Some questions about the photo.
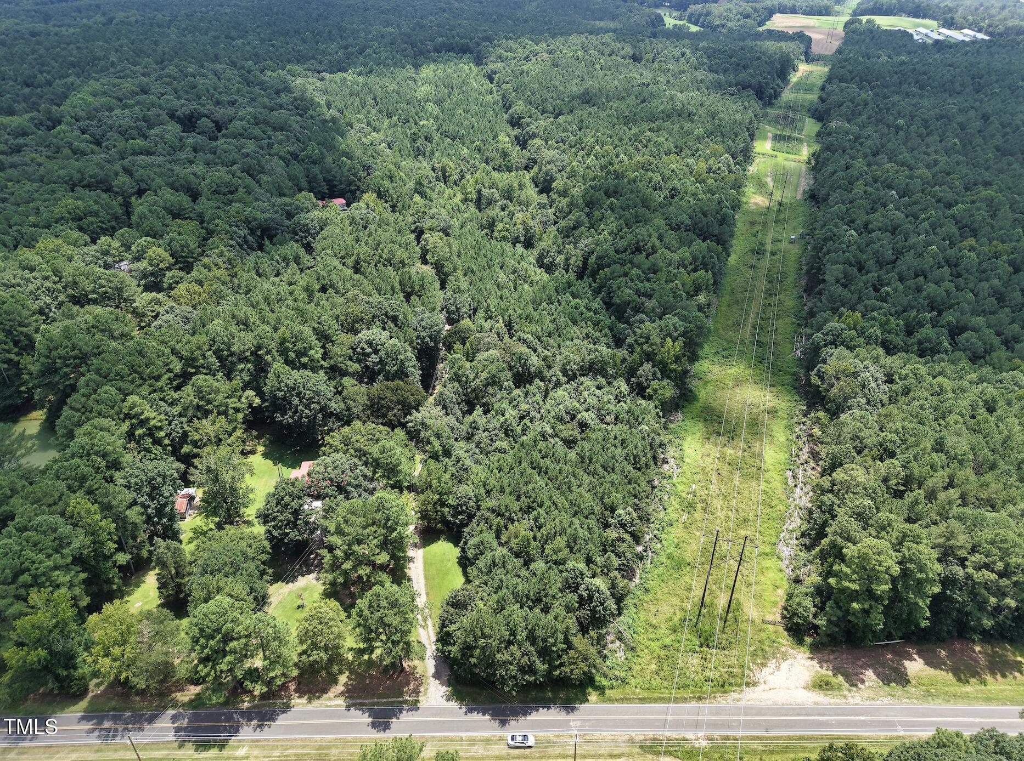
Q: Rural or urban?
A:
rural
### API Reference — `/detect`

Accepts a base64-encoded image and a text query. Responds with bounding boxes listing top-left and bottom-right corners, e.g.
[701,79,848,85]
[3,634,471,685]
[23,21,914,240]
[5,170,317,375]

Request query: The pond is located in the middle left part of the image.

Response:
[0,425,62,480]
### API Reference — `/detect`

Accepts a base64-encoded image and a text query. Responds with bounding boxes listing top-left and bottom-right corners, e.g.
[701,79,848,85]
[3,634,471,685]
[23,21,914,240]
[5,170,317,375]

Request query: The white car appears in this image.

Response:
[508,735,534,749]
